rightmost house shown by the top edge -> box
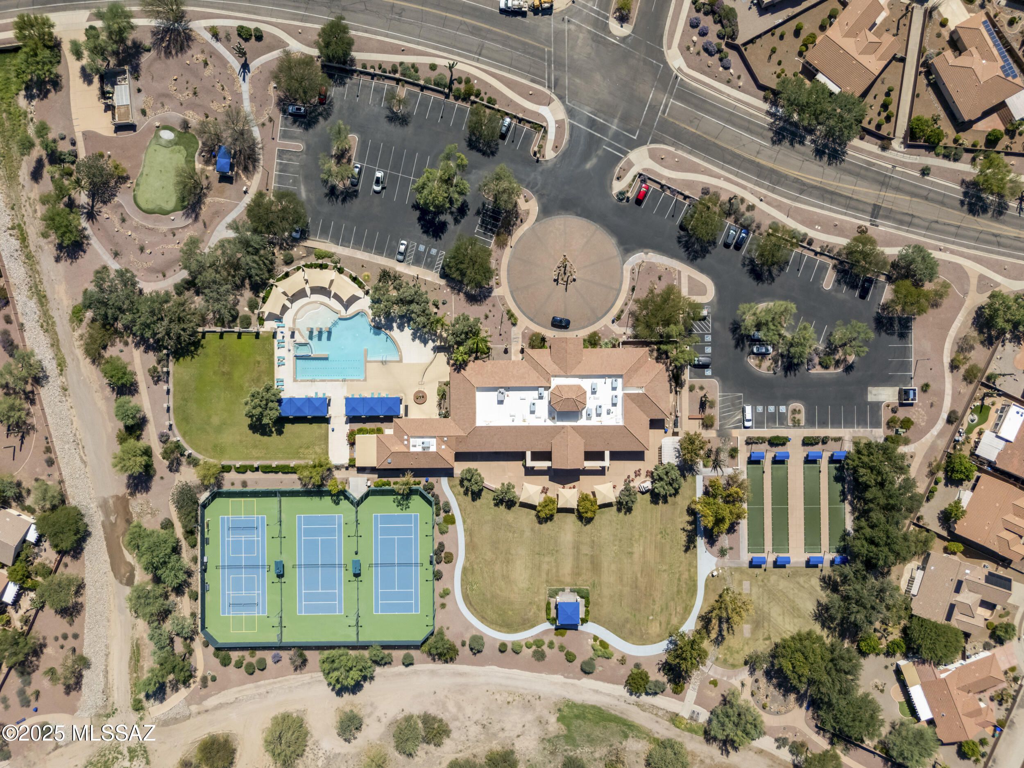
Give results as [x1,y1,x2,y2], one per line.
[926,11,1024,129]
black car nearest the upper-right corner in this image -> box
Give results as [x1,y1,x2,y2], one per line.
[858,278,871,299]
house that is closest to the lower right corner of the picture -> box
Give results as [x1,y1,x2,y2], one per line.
[894,649,1006,743]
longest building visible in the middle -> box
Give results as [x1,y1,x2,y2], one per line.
[356,337,670,469]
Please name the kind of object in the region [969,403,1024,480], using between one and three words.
house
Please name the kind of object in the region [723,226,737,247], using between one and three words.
car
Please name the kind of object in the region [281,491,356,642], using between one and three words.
tennis court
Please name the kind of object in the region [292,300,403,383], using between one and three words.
swimming pool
